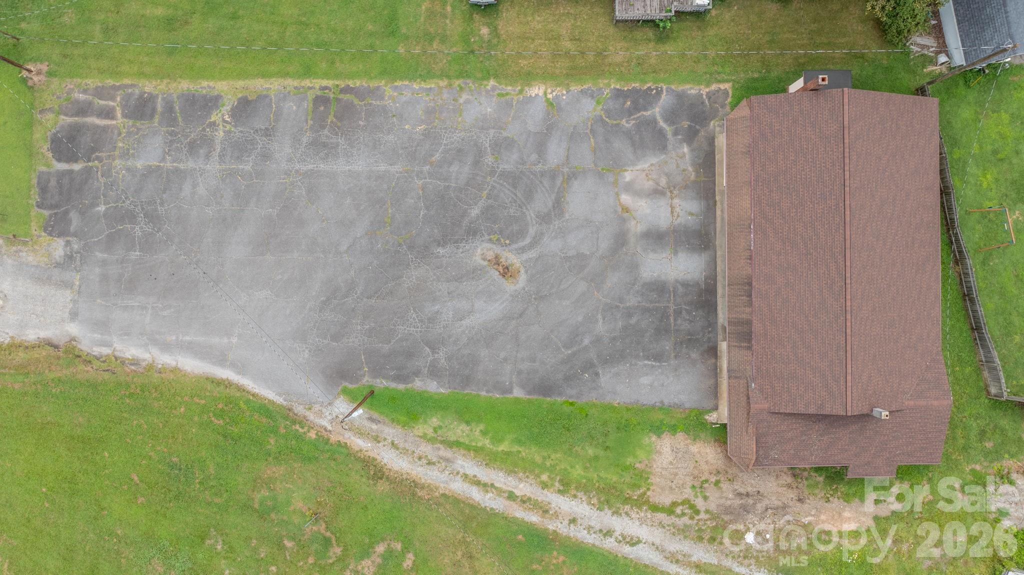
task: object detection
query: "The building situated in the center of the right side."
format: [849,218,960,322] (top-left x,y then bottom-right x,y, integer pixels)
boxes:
[722,75,952,478]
